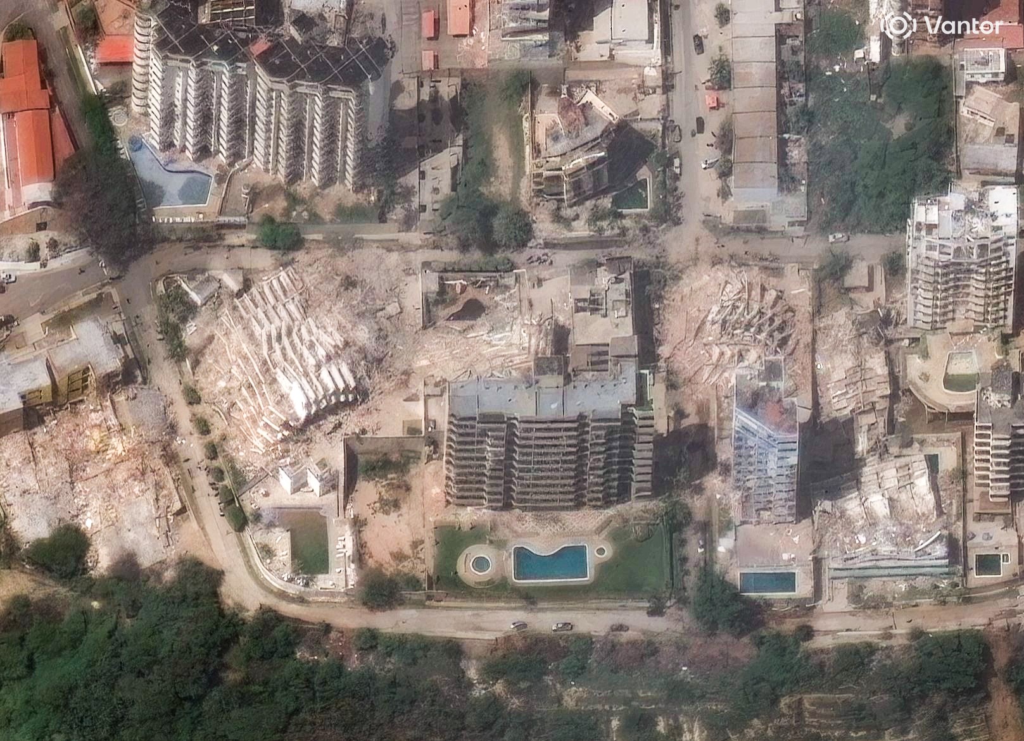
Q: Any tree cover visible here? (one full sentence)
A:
Yes, tree cover can be seen from above here.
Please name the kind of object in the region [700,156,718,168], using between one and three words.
vehicle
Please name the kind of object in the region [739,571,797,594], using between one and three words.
swimming pool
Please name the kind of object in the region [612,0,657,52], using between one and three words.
building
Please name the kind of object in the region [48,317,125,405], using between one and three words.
house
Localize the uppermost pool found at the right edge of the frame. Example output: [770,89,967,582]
[943,350,980,392]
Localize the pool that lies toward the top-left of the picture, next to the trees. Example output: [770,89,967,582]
[129,137,213,208]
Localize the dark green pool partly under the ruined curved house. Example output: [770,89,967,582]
[606,176,649,208]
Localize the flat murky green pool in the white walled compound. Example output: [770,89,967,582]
[291,521,329,575]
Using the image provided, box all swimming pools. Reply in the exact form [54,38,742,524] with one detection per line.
[469,552,493,575]
[943,350,980,392]
[1002,553,1010,564]
[511,544,590,582]
[291,521,329,575]
[739,571,797,594]
[595,546,606,558]
[974,553,1002,577]
[606,176,649,208]
[129,137,213,208]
